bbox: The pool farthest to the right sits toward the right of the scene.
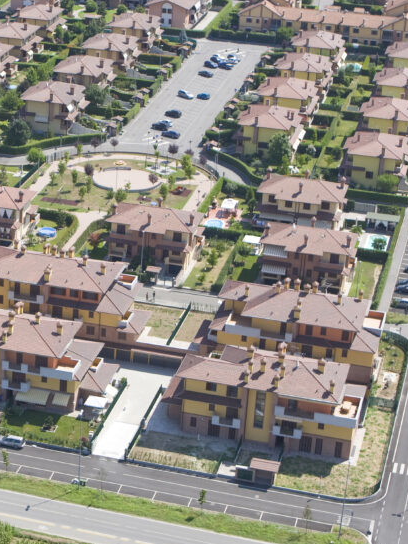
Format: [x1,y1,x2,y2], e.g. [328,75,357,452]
[364,235,388,250]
